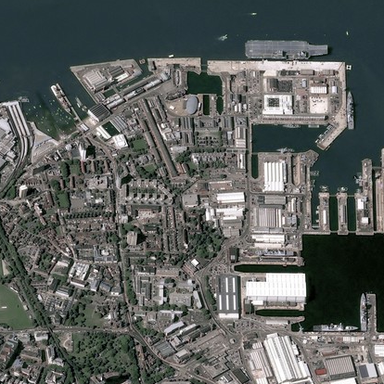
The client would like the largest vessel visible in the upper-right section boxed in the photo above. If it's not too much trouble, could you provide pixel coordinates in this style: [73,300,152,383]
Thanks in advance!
[246,39,327,59]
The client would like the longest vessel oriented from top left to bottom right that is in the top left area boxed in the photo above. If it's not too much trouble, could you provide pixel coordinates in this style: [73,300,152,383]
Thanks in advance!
[51,85,74,117]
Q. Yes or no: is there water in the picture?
Yes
